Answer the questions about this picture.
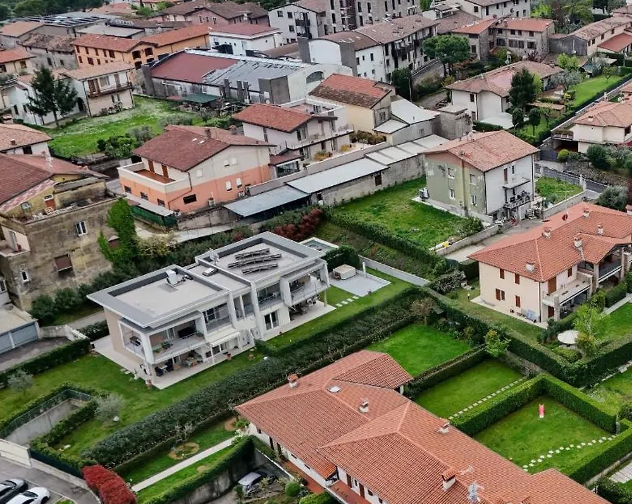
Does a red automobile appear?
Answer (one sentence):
No, the photo shows no red automobile.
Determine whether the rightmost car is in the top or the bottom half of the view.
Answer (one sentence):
It is in the bottom half that the rightmost car appears.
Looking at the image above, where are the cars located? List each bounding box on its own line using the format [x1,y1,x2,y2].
[0,478,30,504]
[230,466,280,502]
[6,491,50,504]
